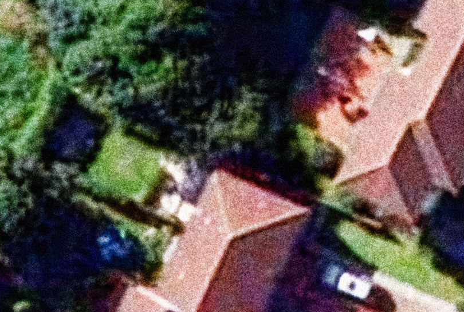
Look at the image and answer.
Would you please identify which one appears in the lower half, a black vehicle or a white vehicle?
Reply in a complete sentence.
Visible in the lower half is a white vehicle.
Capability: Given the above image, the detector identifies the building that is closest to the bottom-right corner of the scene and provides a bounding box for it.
[335,96,460,222]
